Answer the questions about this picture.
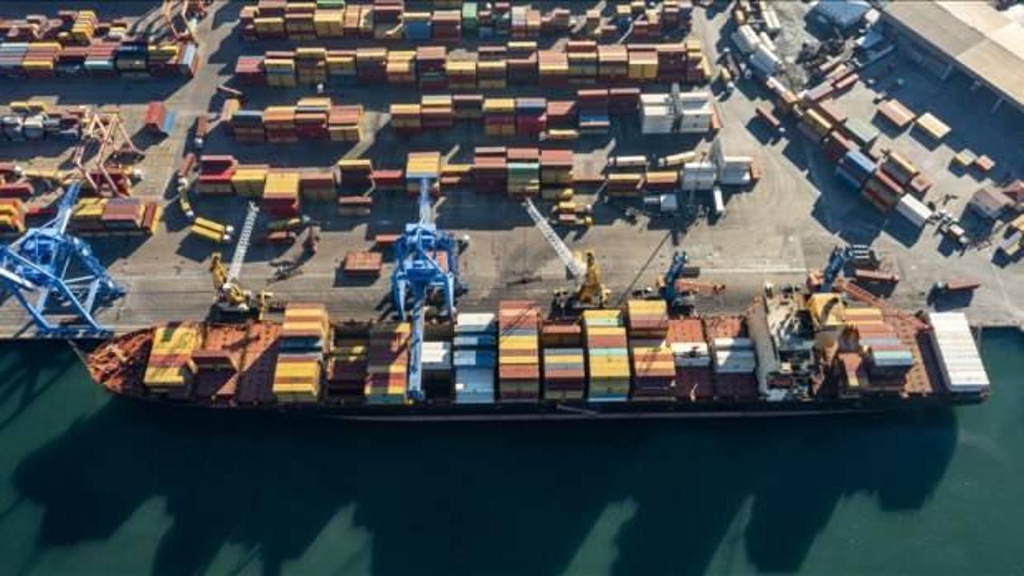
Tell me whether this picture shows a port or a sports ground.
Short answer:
port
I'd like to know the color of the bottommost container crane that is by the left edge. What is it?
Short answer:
blue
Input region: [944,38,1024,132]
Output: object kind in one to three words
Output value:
building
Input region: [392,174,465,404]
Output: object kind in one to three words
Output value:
container crane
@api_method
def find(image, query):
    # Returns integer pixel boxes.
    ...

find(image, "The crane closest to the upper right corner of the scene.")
[800,244,929,328]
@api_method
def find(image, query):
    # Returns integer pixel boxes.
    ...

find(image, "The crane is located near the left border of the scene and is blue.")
[0,180,134,332]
